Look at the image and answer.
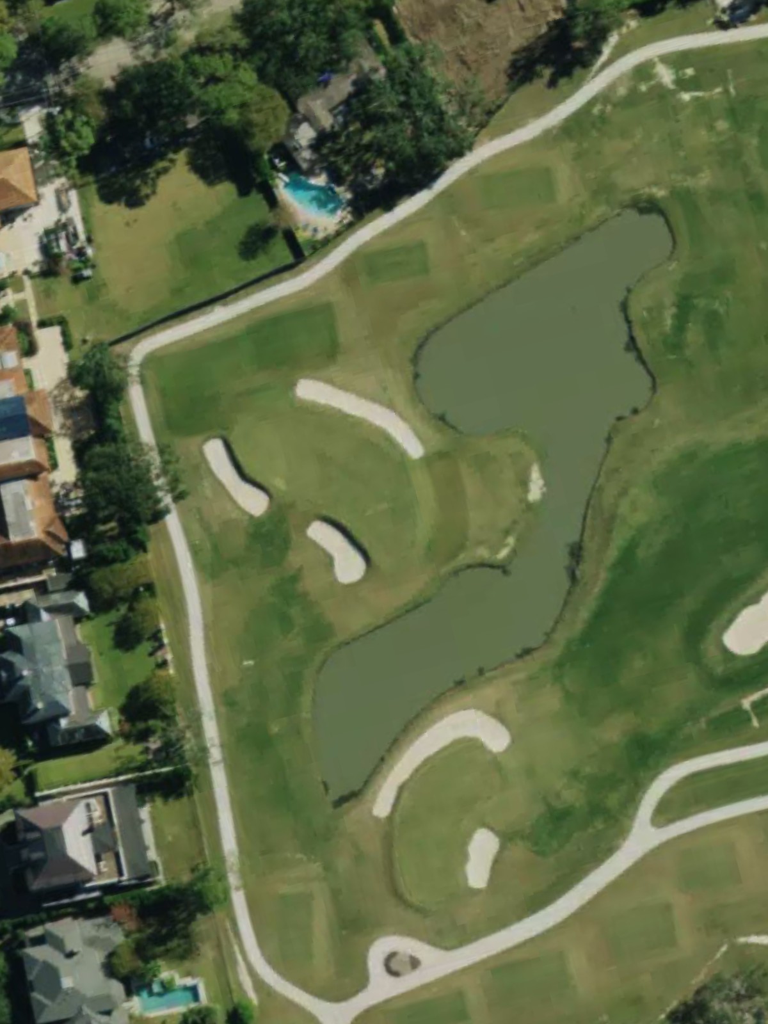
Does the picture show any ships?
No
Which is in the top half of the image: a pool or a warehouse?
pool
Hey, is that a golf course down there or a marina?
golf course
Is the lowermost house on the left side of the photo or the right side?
left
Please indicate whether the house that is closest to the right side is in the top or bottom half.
top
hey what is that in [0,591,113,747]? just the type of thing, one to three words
house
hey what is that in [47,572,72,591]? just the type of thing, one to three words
shed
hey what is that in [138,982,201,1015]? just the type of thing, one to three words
swimming pool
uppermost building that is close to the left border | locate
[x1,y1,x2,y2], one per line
[0,147,38,209]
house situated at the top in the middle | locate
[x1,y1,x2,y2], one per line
[286,37,384,173]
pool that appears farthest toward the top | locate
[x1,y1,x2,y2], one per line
[284,172,344,218]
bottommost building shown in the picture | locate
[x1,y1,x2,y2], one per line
[23,913,132,1024]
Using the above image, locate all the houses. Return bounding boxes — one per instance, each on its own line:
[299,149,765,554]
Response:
[14,783,150,890]
[0,591,113,747]
[286,37,384,173]
[23,913,132,1024]
[0,326,68,571]
[0,147,38,209]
